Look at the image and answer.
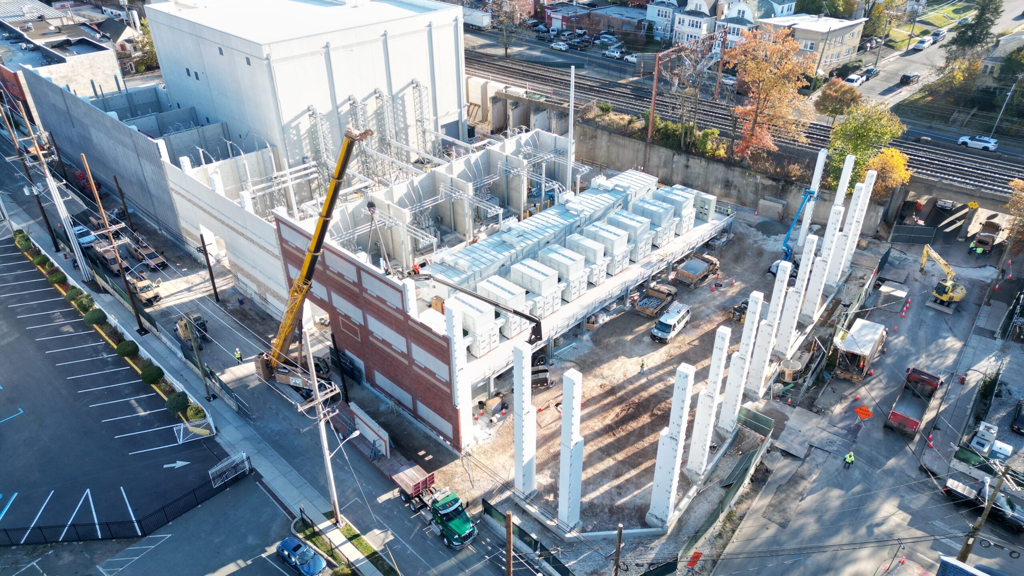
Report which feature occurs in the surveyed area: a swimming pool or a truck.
truck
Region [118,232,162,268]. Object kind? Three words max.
truck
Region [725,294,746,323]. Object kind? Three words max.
work vehicle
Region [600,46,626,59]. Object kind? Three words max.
vehicle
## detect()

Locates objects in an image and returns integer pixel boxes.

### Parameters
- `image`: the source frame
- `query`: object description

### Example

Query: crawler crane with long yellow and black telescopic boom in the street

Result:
[249,112,377,422]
